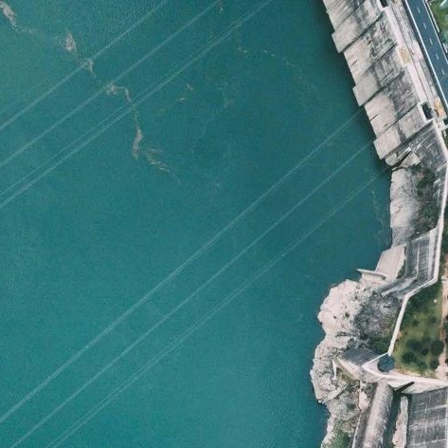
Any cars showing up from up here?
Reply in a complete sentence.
No, I can't see a single car in this photo.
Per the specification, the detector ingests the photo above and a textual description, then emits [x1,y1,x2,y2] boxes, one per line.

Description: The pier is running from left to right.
[357,268,388,284]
